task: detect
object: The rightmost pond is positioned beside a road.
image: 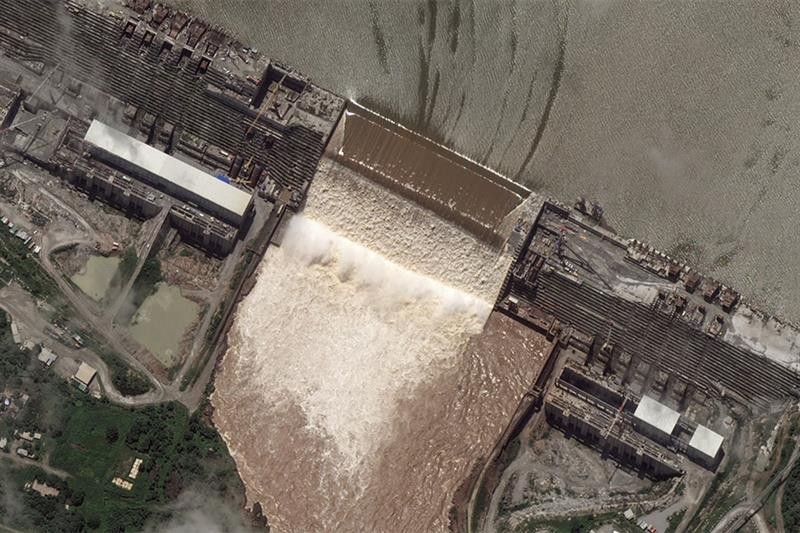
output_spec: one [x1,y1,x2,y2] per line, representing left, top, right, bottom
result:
[132,284,198,366]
